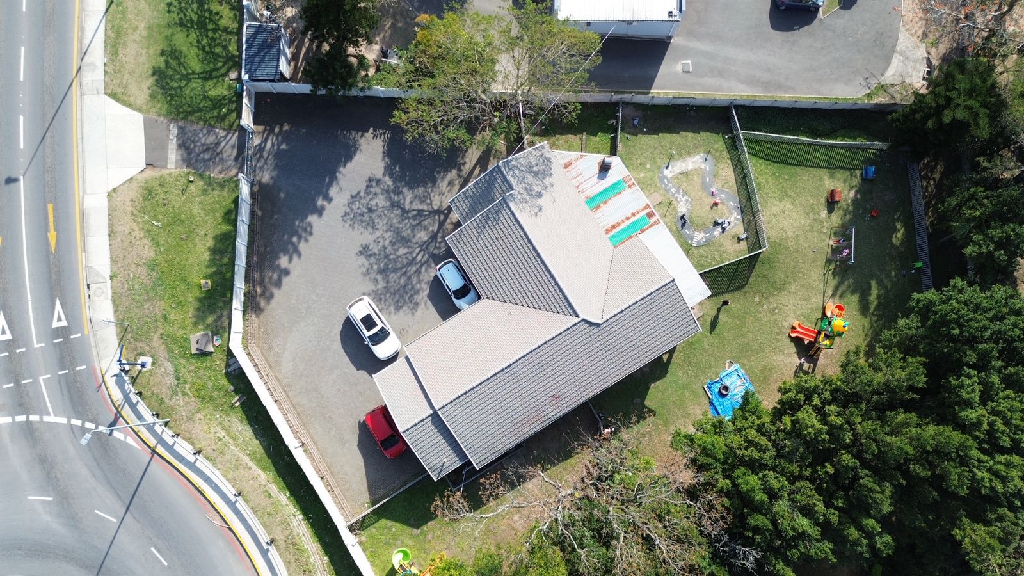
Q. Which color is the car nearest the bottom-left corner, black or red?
red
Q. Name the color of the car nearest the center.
blue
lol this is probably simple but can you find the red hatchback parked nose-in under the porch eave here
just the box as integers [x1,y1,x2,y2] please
[362,404,405,457]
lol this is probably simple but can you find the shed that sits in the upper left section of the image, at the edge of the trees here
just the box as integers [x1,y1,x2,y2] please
[242,22,289,82]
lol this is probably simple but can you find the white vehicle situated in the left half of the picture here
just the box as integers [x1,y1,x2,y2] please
[349,297,400,361]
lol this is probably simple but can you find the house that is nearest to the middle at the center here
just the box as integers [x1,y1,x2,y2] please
[372,141,712,482]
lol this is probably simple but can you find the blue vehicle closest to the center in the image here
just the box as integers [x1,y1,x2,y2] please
[434,257,477,310]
